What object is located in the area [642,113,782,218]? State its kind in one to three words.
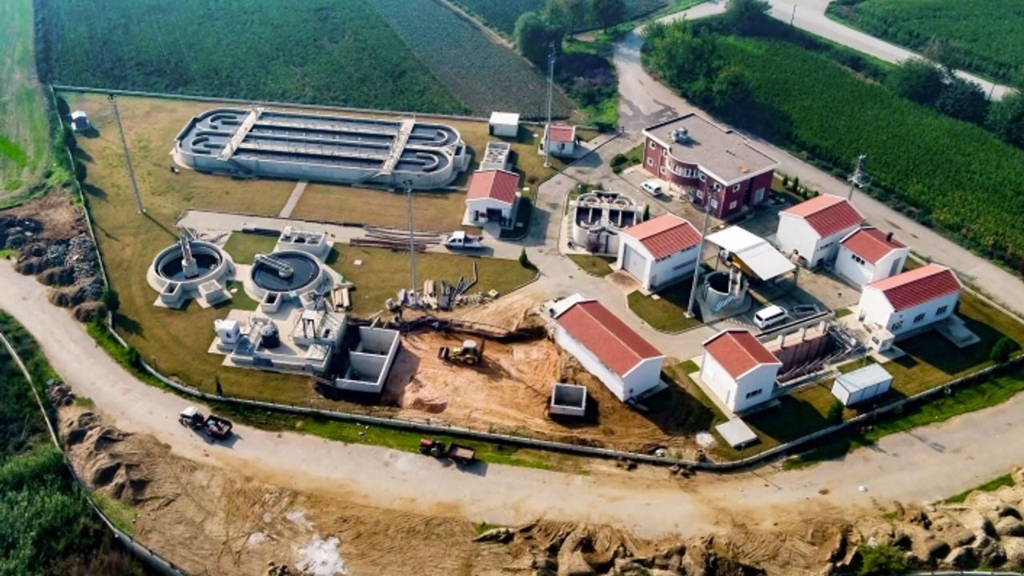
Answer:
building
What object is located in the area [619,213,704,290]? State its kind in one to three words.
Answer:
building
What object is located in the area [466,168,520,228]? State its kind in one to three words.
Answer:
house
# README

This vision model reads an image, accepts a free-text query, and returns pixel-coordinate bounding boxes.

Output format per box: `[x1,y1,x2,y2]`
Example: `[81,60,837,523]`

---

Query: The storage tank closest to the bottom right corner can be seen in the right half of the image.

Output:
[696,271,754,323]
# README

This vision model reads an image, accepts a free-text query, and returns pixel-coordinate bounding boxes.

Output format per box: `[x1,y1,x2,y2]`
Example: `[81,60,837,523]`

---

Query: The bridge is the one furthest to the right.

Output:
[379,113,414,174]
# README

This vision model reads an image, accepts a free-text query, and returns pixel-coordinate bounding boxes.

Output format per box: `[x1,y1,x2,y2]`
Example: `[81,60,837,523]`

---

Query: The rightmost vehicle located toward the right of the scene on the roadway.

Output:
[754,306,792,330]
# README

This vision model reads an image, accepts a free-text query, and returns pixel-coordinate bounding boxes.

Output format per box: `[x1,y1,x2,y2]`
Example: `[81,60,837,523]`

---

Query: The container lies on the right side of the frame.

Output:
[832,365,893,406]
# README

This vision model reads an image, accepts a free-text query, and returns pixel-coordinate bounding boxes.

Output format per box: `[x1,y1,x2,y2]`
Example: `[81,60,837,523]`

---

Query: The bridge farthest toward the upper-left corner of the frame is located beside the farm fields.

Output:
[215,102,264,161]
